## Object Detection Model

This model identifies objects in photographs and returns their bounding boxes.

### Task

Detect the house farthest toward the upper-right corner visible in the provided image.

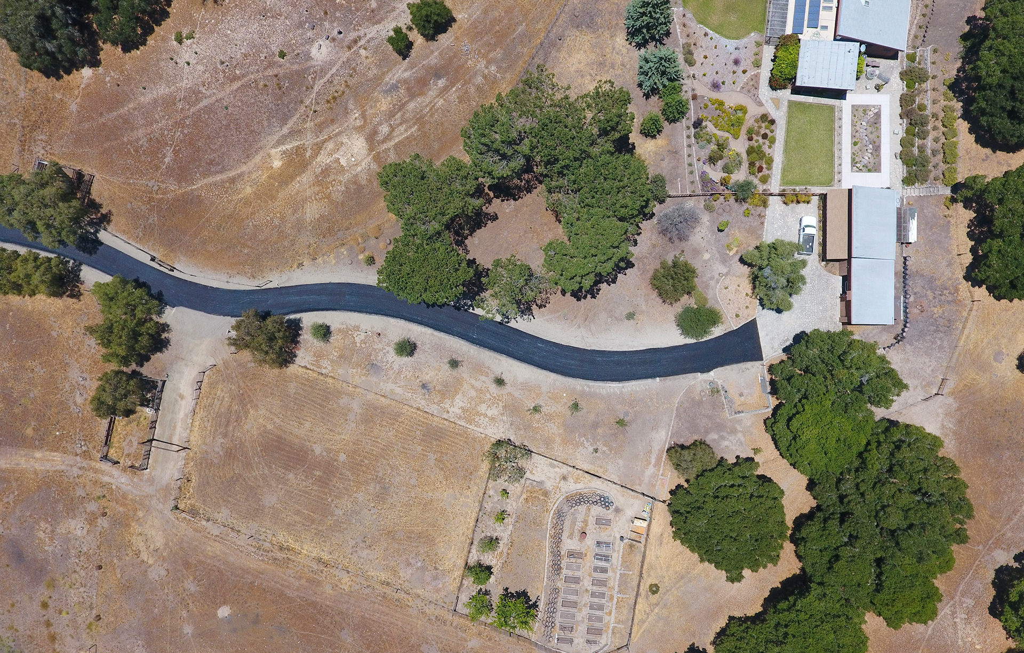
[835,0,912,57]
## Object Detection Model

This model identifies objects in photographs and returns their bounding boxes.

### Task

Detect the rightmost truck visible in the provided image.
[797,215,819,256]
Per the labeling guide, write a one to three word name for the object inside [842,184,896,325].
building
